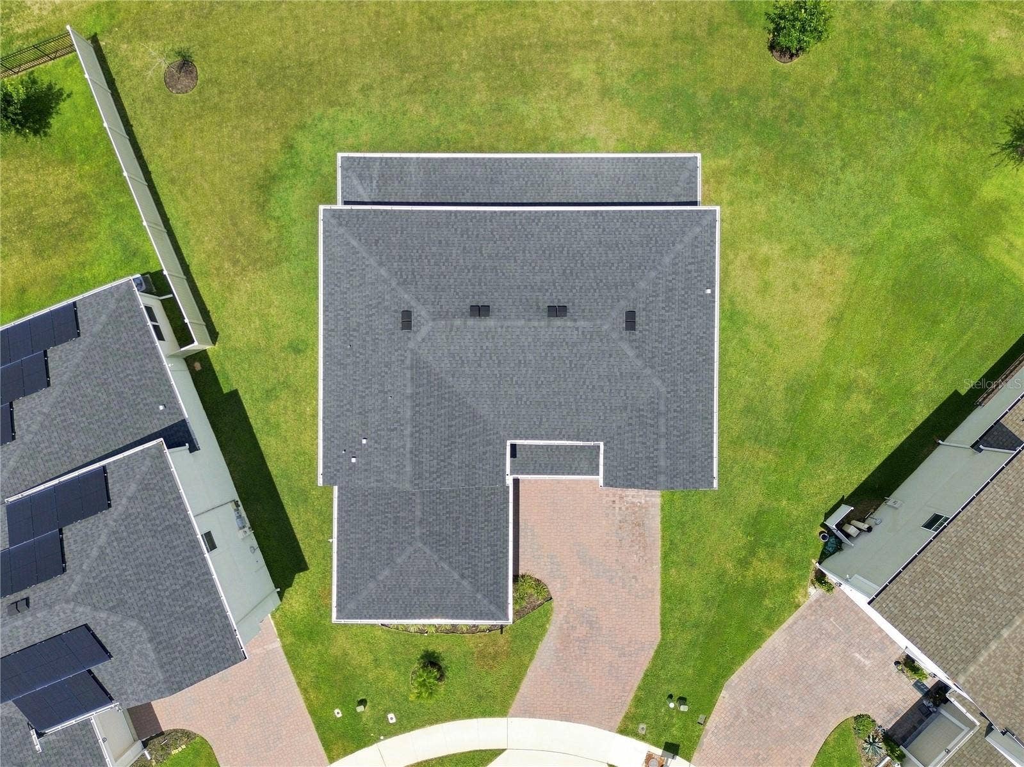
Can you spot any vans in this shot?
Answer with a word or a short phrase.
No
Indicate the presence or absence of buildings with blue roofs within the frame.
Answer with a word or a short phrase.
No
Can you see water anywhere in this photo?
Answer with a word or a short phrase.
No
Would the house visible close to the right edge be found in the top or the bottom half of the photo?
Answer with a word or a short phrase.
bottom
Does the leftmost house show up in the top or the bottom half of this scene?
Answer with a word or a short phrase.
bottom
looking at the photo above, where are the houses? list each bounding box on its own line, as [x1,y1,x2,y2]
[0,277,285,767]
[820,363,1024,767]
[320,153,719,622]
